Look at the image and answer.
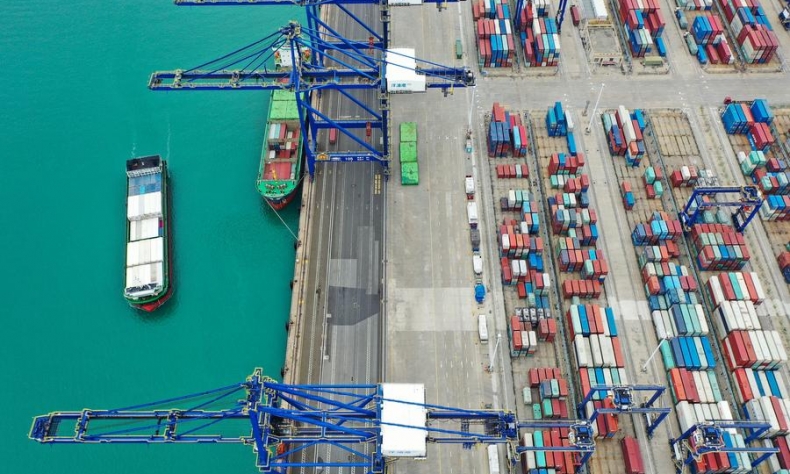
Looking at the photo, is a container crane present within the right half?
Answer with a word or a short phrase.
Yes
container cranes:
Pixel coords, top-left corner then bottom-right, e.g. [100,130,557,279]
[514,0,566,29]
[29,367,522,474]
[576,380,669,433]
[509,416,597,470]
[679,181,762,232]
[673,417,777,471]
[175,0,468,98]
[148,20,476,185]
